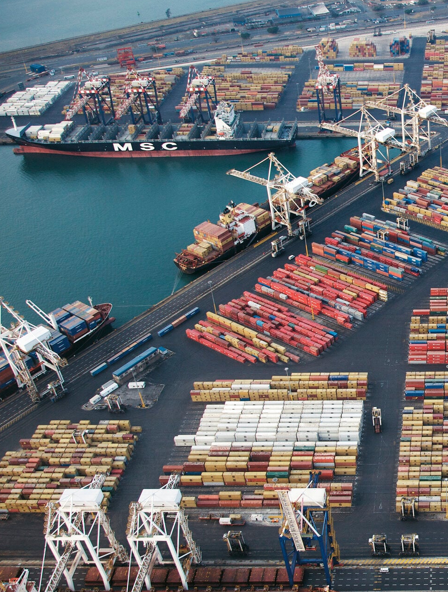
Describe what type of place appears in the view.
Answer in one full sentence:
The picture captures a port.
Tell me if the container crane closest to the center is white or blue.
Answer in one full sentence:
From above, the container crane closest to the center appears white.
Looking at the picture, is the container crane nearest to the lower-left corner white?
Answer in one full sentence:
Yes, white is the color of the container crane nearest to the lower-left corner.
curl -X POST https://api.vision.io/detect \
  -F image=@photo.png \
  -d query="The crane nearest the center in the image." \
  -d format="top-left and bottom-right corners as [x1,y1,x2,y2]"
[233,157,327,237]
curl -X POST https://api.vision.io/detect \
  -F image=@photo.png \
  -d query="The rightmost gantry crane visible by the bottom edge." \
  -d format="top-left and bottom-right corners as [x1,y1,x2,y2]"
[272,470,339,587]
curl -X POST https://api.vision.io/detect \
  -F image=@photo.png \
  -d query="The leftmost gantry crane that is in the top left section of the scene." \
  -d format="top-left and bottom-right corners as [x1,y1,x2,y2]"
[64,67,122,130]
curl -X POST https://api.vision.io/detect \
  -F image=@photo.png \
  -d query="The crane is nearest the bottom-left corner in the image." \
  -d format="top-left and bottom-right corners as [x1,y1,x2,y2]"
[33,471,125,592]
